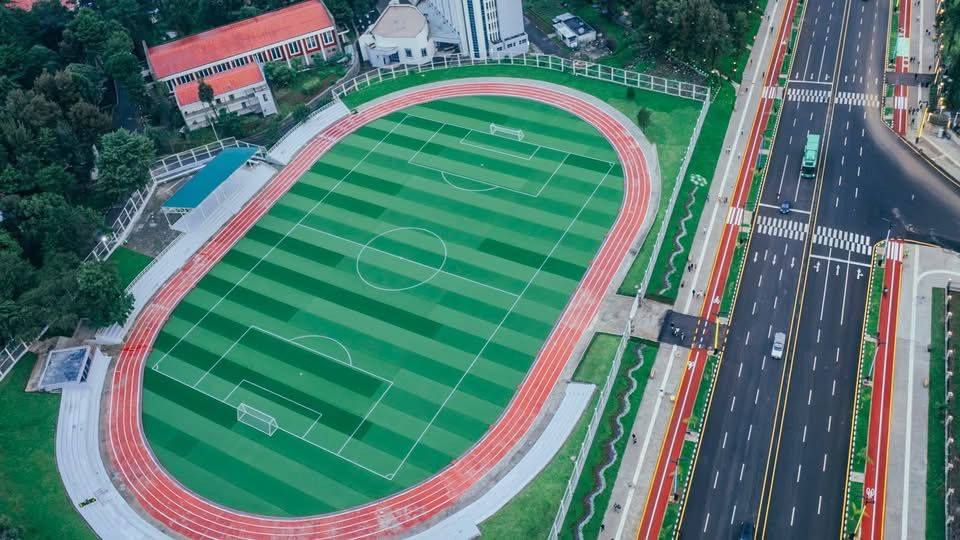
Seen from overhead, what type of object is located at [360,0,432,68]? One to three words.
building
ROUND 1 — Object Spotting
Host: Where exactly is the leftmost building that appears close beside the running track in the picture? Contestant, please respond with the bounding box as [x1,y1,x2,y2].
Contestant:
[38,346,92,392]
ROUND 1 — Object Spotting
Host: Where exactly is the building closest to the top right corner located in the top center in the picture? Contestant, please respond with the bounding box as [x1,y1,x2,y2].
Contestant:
[548,11,596,52]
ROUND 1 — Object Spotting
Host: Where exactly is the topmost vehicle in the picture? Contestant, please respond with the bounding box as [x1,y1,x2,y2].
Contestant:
[799,134,819,179]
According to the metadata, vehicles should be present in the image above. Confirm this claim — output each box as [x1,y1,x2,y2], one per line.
[781,199,791,213]
[772,329,788,357]
[799,134,819,179]
[737,522,753,540]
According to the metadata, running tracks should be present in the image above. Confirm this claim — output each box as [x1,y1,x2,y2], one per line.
[103,82,652,540]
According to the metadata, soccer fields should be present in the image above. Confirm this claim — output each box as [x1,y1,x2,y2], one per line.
[142,97,622,515]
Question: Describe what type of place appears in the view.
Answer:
sports ground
